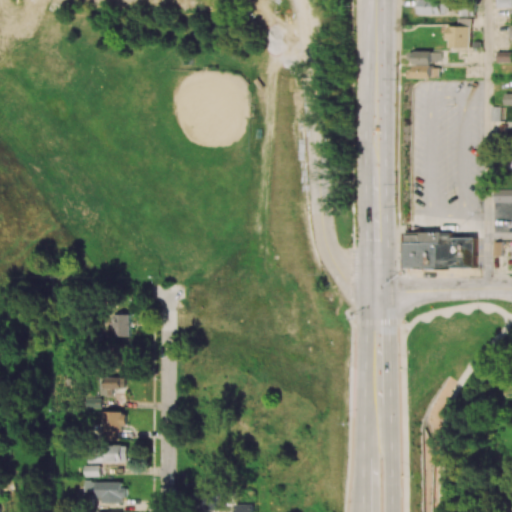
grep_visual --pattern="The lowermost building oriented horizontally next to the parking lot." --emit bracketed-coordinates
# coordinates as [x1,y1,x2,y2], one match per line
[402,232,478,268]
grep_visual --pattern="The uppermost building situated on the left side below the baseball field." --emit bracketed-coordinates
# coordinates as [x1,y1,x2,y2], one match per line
[110,314,129,338]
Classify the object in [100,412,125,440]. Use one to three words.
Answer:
house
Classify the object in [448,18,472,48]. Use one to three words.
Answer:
building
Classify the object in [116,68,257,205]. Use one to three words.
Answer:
baseball field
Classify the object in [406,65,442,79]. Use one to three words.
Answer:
house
